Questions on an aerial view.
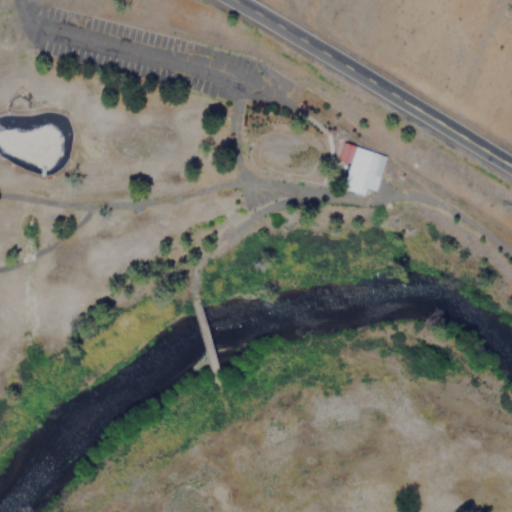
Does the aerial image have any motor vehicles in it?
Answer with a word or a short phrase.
No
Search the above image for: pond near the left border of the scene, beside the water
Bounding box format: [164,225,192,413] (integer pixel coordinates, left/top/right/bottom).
[0,112,73,175]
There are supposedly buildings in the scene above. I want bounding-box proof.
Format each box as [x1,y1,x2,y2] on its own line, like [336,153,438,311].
[340,142,388,195]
